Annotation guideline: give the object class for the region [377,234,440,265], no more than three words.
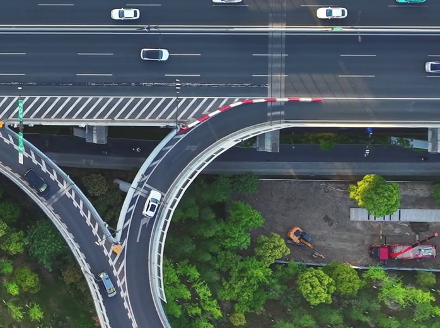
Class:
truck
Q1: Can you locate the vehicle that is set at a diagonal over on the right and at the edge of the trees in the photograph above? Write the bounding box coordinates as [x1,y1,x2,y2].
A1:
[286,229,325,263]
